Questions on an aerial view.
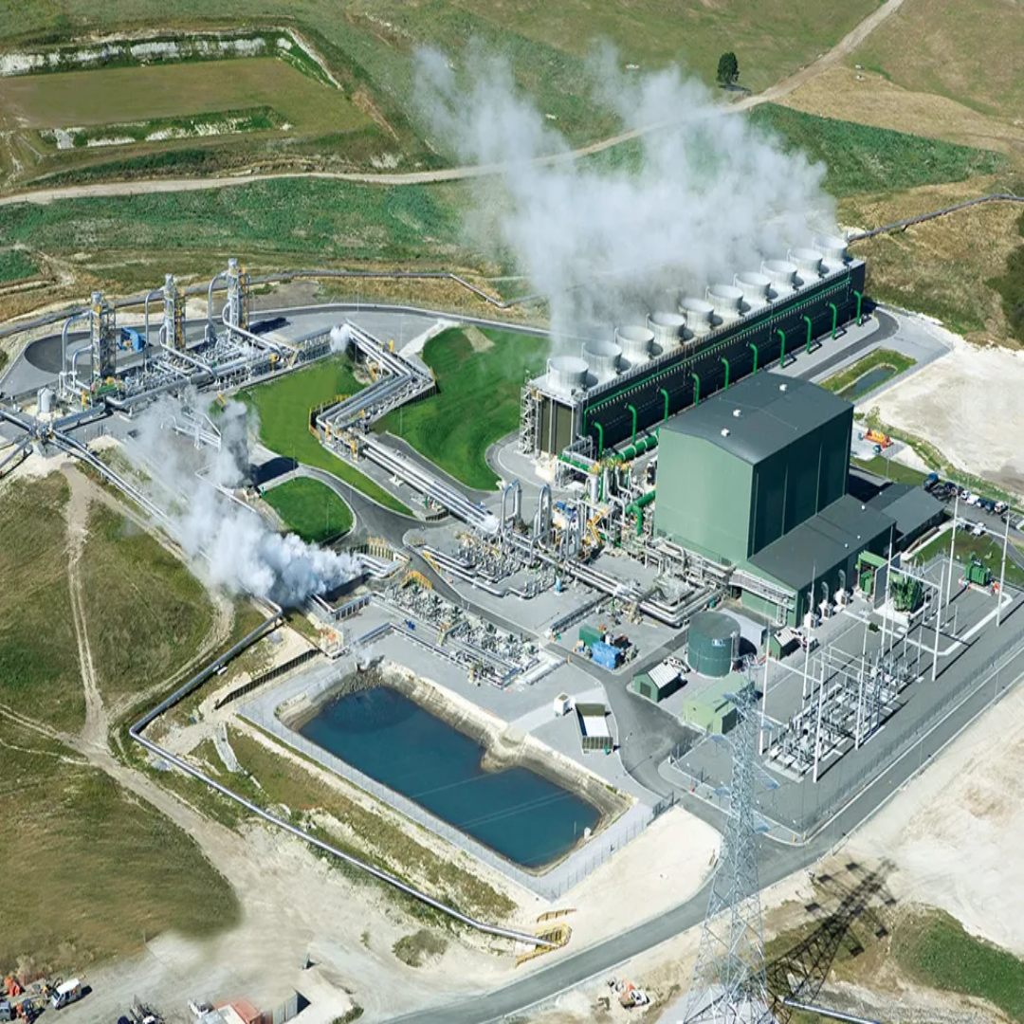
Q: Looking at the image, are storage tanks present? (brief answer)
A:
Yes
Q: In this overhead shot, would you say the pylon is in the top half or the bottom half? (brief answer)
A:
bottom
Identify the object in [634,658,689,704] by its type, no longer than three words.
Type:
shed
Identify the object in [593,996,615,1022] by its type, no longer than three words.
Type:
work vehicle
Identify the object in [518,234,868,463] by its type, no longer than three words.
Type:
cooling tower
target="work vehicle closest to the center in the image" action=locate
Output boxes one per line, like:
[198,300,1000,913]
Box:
[612,634,629,646]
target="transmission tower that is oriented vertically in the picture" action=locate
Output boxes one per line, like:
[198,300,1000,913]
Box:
[693,682,790,1024]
